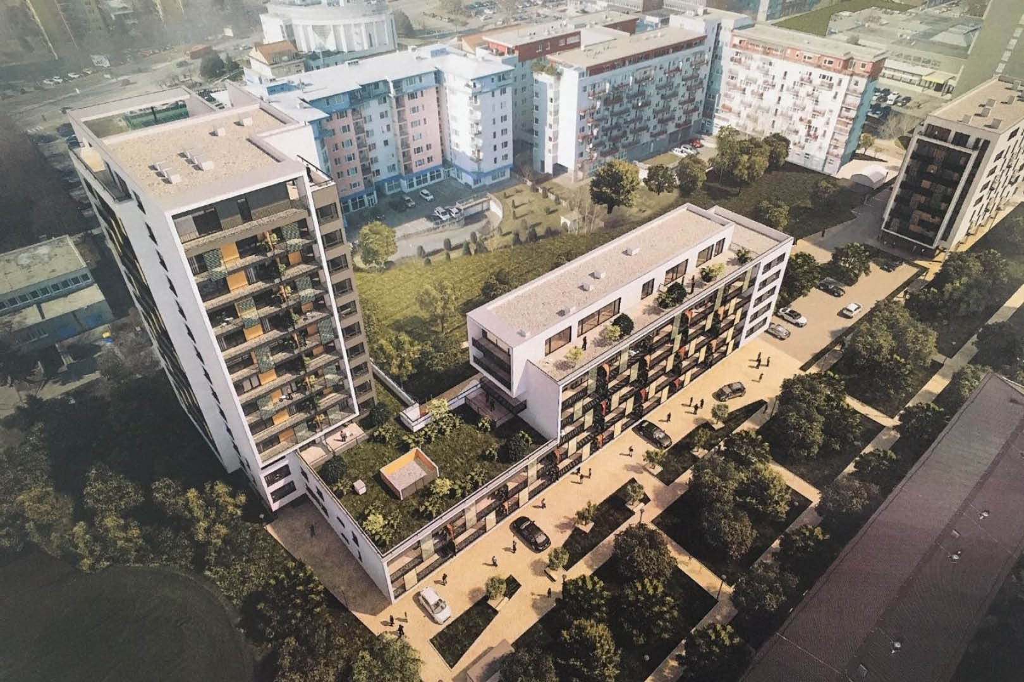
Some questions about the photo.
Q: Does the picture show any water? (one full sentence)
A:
No, no water is visible.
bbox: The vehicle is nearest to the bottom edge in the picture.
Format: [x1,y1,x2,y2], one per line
[415,583,453,625]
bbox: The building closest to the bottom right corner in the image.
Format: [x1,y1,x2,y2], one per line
[719,376,1024,682]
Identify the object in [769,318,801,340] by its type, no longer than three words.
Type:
car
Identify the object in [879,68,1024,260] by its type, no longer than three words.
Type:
house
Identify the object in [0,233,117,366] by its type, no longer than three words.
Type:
building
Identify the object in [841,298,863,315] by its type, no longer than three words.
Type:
car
